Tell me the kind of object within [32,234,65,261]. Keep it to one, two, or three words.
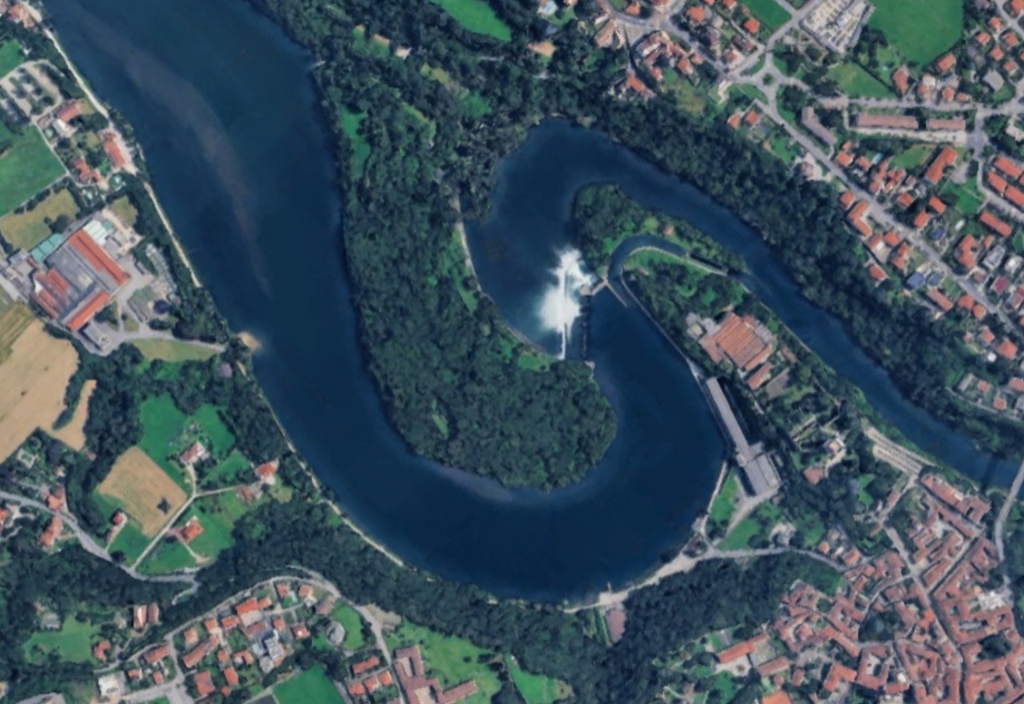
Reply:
shed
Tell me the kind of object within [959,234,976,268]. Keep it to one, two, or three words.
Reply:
house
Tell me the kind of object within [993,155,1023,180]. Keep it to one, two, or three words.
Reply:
building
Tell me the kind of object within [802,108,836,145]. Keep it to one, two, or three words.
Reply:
house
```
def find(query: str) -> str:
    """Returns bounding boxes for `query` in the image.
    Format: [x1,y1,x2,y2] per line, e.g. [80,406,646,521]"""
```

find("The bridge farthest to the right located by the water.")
[997,453,1024,531]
